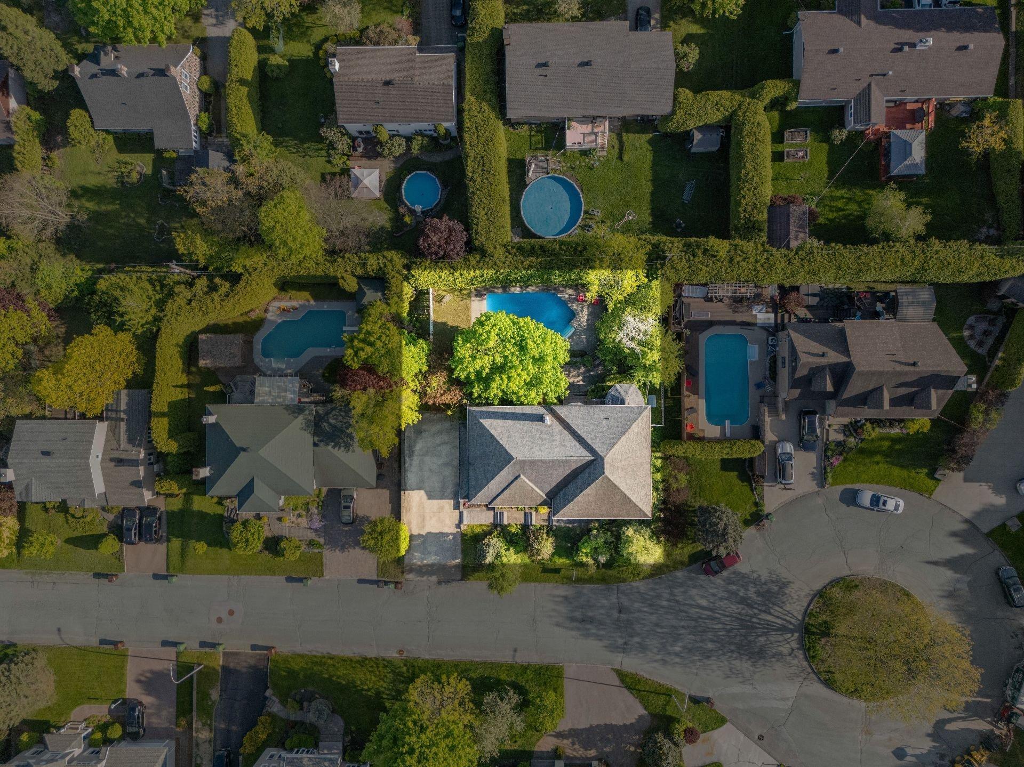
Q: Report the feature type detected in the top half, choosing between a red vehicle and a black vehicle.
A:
black vehicle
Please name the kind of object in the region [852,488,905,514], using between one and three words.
car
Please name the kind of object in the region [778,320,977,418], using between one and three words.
house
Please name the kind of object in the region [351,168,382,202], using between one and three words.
gazebo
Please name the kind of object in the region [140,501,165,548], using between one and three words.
car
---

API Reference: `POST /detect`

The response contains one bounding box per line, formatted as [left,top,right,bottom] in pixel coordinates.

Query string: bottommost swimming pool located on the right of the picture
[700,326,767,440]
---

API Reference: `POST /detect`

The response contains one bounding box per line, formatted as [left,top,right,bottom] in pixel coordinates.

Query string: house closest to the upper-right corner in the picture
[789,0,1005,136]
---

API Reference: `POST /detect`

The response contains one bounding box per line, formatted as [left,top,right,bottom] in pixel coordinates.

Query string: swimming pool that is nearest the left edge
[253,302,360,376]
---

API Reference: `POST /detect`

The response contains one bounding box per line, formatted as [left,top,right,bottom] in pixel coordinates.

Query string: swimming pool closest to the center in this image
[471,288,599,349]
